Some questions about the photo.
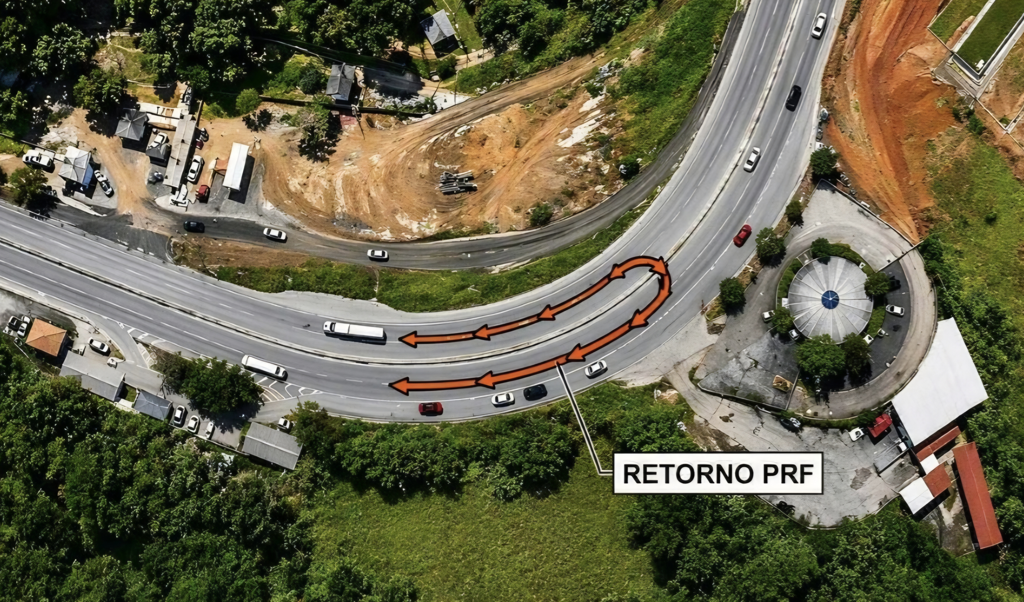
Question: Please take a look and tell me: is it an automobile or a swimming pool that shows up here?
automobile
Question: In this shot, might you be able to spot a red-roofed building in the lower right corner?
Yes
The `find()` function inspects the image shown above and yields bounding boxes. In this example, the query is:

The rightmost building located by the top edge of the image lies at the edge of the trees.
[420,9,456,49]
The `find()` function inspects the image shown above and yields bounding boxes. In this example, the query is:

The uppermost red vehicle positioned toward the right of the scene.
[733,224,750,247]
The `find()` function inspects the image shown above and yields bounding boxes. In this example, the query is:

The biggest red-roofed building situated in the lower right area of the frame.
[942,440,1003,549]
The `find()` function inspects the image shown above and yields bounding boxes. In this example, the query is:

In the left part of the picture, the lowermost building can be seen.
[243,421,306,469]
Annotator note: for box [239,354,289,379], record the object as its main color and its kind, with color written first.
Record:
white bus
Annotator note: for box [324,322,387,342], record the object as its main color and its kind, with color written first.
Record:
white vehicle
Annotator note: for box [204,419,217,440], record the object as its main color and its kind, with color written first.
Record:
white vehicle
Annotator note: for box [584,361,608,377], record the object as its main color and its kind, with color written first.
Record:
white car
